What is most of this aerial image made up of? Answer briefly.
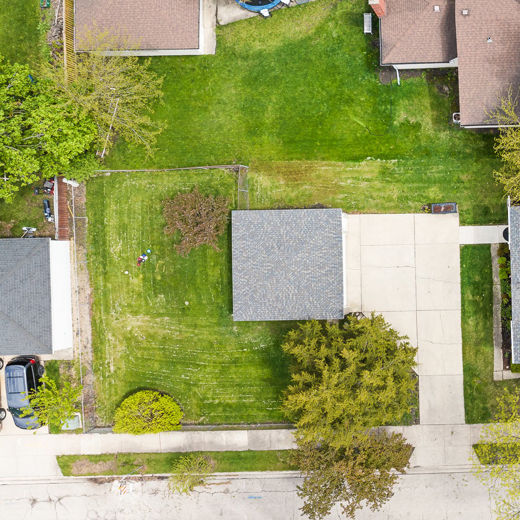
grass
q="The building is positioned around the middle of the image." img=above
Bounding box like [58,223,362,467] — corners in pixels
[231,208,349,321]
